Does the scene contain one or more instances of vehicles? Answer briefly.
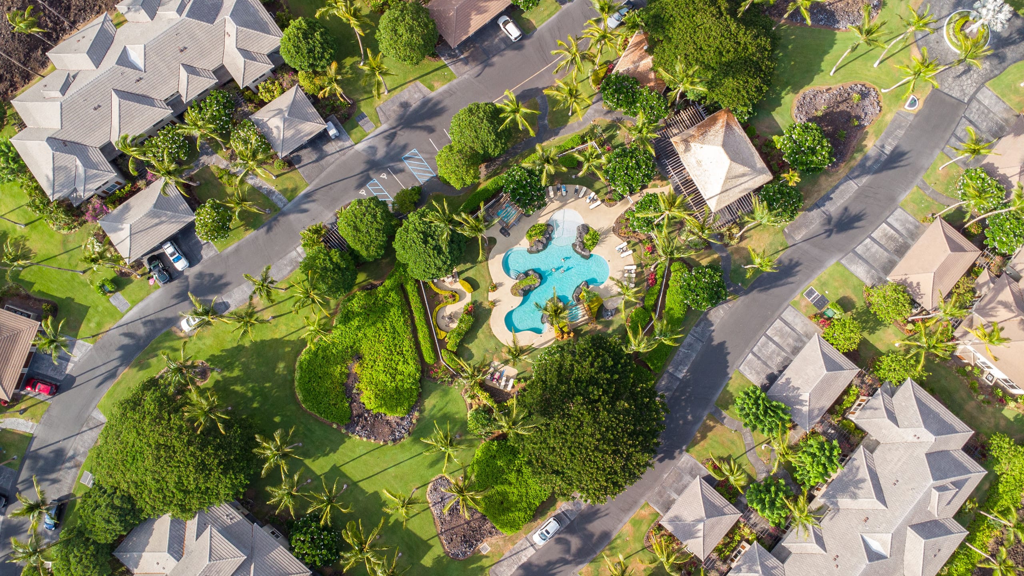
Yes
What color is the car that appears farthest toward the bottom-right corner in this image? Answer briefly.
white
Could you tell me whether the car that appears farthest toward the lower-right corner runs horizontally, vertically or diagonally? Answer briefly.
diagonally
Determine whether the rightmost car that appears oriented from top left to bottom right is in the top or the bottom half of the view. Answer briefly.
top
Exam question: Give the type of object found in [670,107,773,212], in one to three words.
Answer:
building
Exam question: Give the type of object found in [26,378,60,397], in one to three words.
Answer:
car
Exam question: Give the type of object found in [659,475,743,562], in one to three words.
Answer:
building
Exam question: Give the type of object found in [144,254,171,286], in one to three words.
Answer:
car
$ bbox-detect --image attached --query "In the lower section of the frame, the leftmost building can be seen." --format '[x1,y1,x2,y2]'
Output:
[0,306,48,402]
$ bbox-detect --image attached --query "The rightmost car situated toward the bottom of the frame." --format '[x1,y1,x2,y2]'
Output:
[533,516,562,545]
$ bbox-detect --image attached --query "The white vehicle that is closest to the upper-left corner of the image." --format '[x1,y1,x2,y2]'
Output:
[161,240,188,272]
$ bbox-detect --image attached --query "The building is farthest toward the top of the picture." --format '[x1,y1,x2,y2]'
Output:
[424,0,515,48]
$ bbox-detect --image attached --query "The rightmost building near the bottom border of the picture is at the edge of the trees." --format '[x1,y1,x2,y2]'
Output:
[724,378,988,576]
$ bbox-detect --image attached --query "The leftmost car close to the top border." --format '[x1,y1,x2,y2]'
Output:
[498,13,523,44]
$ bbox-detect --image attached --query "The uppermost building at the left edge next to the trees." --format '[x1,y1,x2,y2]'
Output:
[8,0,282,207]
